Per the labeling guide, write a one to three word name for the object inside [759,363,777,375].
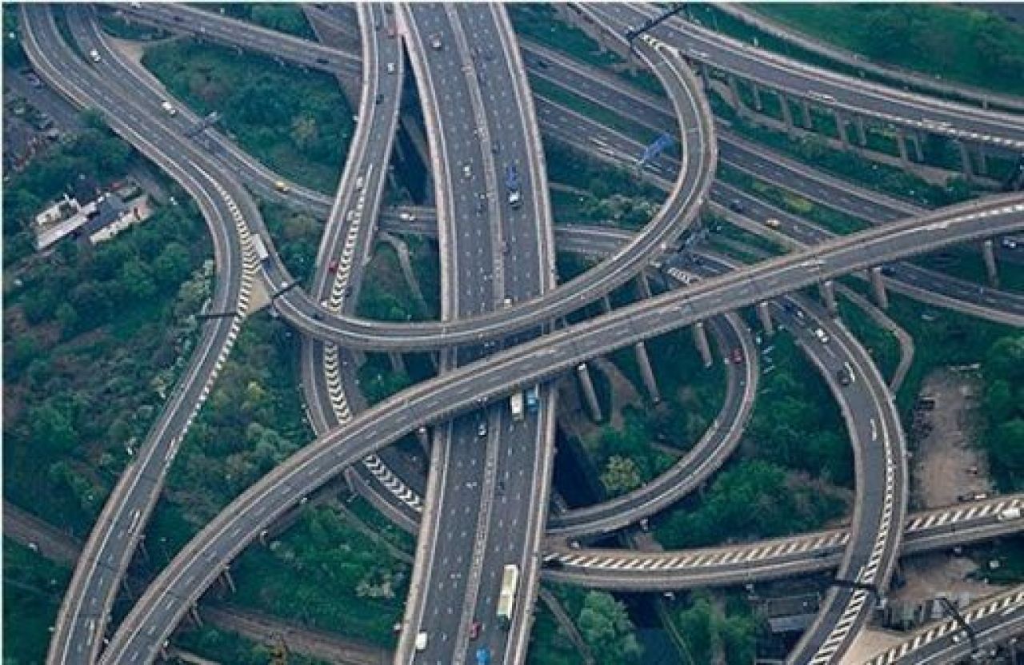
vehicle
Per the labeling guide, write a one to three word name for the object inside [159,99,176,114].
vehicle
